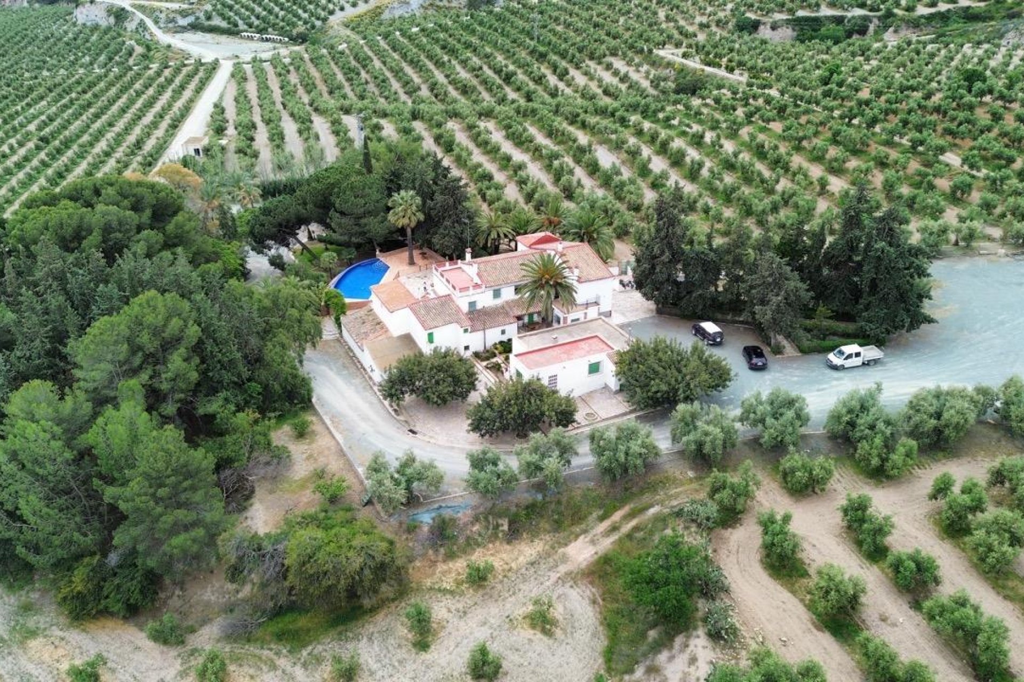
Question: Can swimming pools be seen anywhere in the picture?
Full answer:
Yes, I can see a swimming pool in this picture.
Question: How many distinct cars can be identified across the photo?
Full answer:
The number of cars here is 2.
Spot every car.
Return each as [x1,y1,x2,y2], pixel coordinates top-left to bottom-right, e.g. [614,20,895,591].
[742,349,767,371]
[693,323,726,347]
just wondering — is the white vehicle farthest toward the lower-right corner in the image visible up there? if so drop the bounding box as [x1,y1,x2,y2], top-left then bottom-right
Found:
[827,343,887,370]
